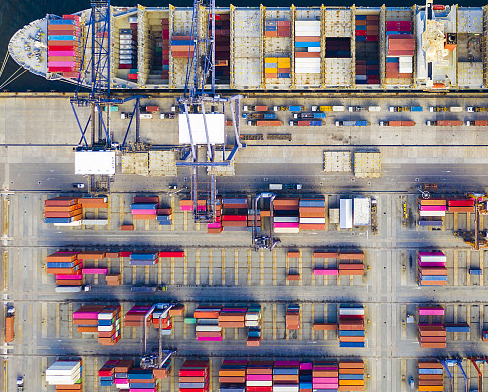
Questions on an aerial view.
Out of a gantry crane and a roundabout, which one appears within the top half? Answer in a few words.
gantry crane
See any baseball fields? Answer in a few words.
No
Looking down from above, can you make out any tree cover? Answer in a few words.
No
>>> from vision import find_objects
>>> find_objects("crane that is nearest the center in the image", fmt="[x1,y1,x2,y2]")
[254,193,278,258]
